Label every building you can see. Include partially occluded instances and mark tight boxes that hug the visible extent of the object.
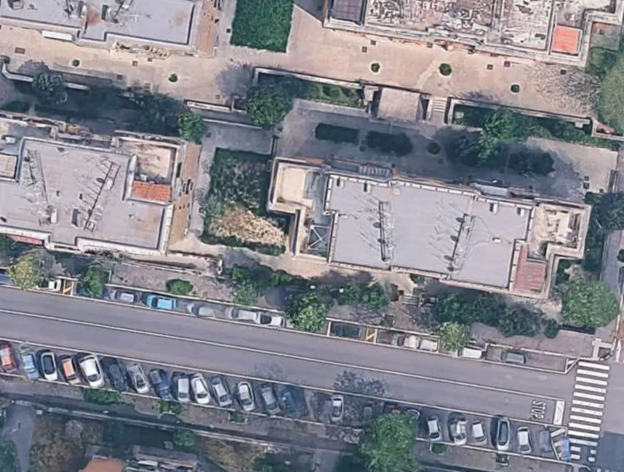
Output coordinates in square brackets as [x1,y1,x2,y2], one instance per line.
[0,0,220,67]
[323,0,624,72]
[266,149,592,298]
[0,102,201,256]
[69,452,234,472]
